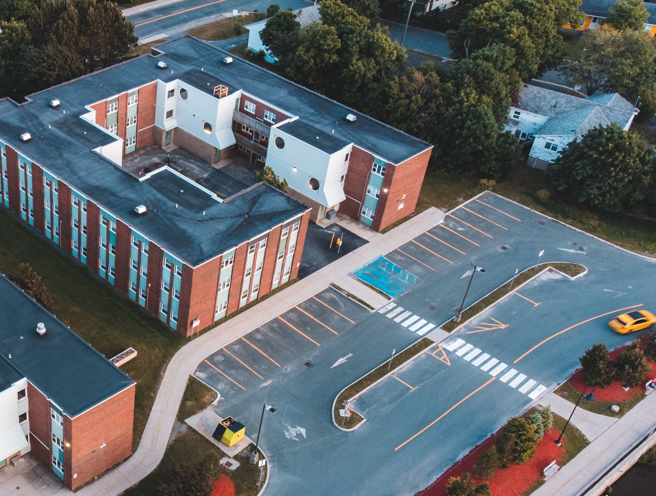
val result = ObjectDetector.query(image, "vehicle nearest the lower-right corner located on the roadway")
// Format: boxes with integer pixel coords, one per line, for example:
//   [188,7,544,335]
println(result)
[609,312,656,337]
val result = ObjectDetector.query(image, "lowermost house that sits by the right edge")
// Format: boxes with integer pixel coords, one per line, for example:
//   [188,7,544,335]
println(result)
[509,82,634,171]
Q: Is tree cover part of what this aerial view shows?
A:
Yes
